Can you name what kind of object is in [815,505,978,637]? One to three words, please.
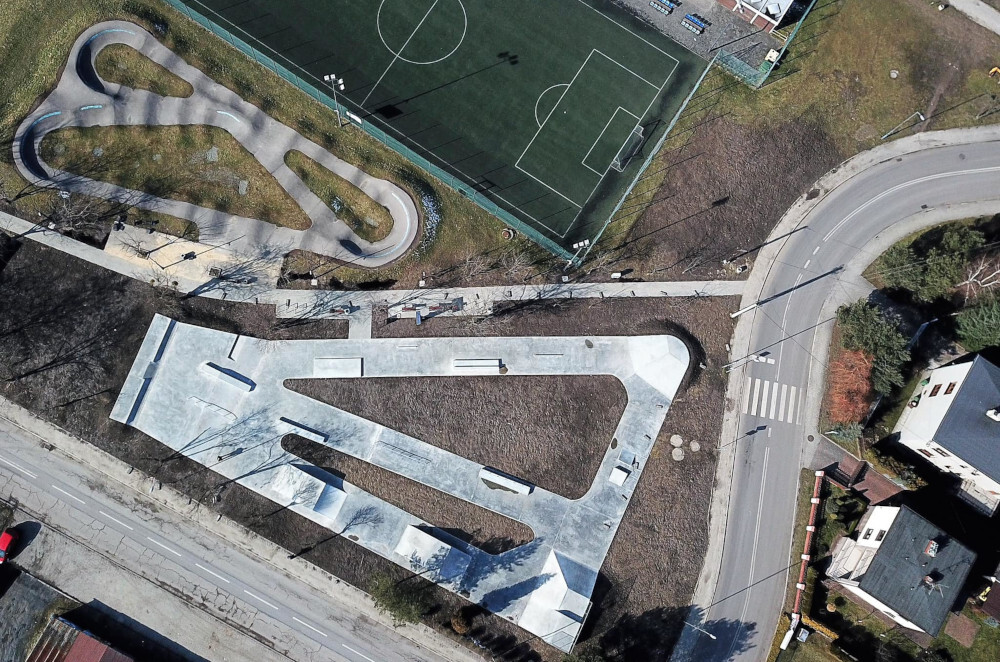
house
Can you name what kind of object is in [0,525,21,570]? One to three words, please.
car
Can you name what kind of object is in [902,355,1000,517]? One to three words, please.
house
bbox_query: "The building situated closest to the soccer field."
[731,0,795,35]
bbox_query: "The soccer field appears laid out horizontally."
[149,0,719,274]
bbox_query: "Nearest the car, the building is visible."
[26,612,146,662]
